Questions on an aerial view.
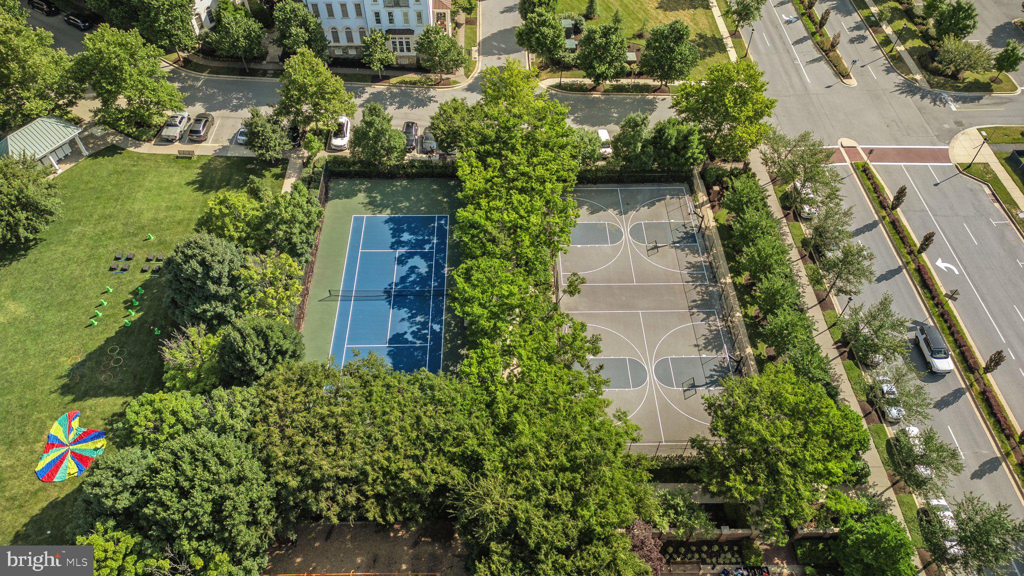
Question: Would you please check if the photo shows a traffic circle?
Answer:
No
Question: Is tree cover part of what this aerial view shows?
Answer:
Yes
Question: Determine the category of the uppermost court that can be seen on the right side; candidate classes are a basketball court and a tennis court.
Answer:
basketball court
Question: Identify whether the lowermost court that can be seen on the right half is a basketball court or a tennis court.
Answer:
basketball court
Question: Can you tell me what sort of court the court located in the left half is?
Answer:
tennis court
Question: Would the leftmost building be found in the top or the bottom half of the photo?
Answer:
top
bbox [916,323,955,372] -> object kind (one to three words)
car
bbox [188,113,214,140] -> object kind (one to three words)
car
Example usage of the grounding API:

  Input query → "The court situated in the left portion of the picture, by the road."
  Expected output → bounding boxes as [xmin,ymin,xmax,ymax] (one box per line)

[280,178,477,451]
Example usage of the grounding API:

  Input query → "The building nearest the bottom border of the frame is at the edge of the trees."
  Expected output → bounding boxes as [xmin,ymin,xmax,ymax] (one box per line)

[0,111,86,184]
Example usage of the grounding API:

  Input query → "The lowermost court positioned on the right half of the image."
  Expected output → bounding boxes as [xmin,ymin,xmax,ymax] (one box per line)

[559,296,747,451]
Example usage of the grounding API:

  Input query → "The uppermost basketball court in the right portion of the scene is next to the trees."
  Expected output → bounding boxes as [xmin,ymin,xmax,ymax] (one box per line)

[549,180,721,298]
